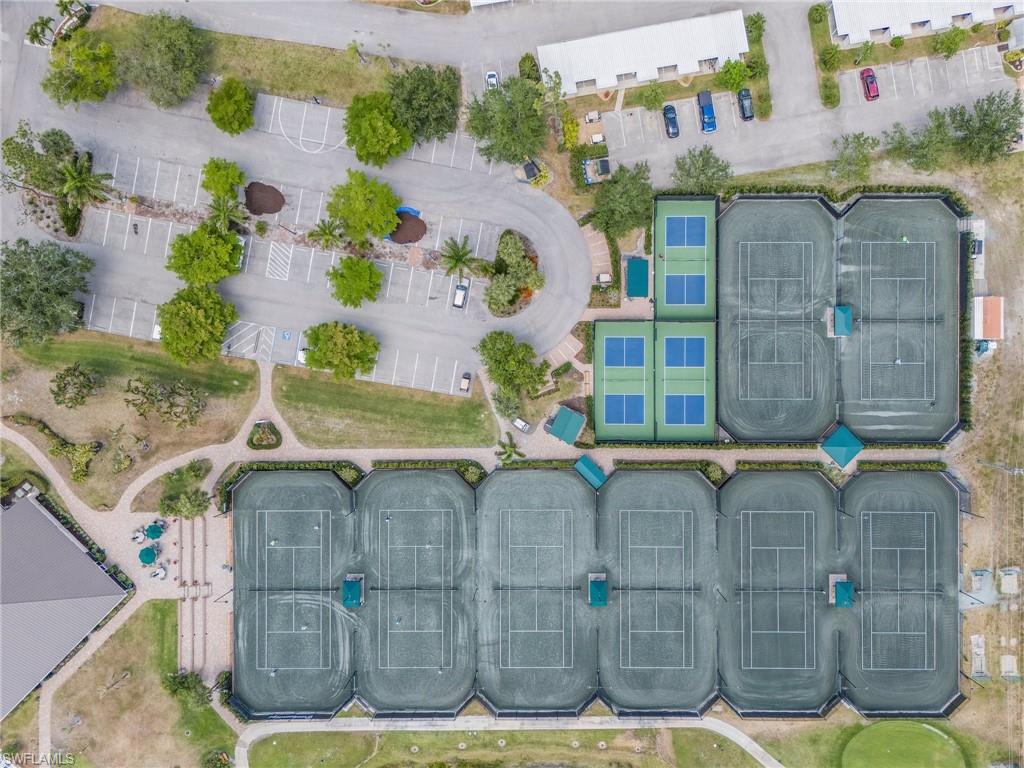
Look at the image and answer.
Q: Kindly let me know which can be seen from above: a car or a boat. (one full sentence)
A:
Visible in the photo is a car.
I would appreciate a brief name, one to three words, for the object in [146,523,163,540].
umbrella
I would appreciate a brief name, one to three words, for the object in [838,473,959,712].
tennis court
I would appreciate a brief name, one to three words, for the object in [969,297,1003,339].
shed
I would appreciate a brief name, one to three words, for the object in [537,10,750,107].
building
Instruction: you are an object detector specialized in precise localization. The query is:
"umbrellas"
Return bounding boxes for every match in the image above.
[146,523,163,540]
[139,546,158,564]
